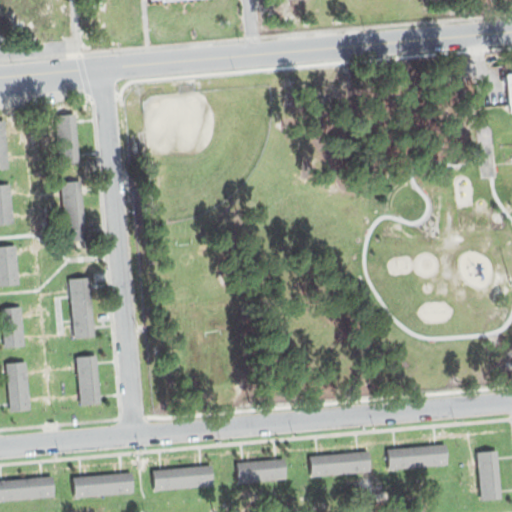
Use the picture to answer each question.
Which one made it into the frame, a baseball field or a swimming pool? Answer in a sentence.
The one in the frame is a baseball field.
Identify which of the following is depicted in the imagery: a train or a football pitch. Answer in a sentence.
Visible in the photo is a football pitch.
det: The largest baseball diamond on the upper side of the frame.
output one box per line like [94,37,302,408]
[142,87,281,221]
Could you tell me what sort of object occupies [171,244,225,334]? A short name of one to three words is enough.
soccer field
